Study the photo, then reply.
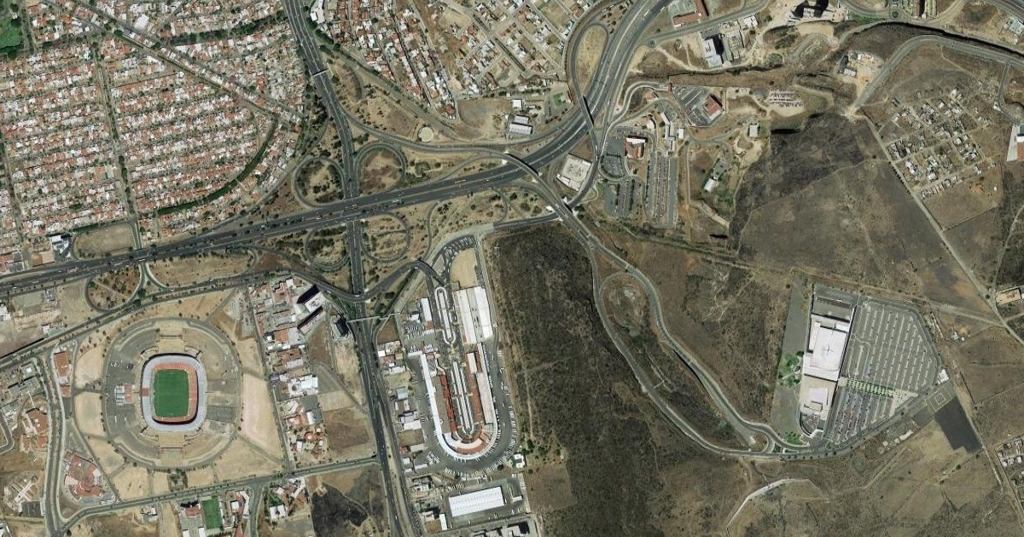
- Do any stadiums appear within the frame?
Yes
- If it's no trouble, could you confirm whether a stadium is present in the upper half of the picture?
No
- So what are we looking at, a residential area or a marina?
residential area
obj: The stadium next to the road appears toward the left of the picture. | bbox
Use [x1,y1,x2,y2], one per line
[133,352,220,449]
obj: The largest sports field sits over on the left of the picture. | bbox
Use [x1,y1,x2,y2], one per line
[154,369,189,418]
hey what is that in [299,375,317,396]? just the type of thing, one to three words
house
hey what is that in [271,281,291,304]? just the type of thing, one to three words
house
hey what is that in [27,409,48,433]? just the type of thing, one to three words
building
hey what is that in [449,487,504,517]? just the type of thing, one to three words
building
